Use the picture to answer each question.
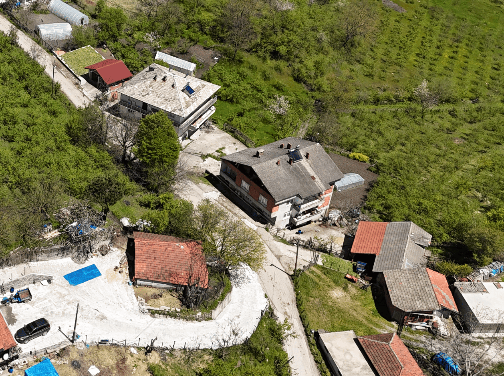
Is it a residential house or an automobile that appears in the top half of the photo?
residential house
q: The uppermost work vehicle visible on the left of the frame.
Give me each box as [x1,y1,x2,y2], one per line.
[0,285,33,306]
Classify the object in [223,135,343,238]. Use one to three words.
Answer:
house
